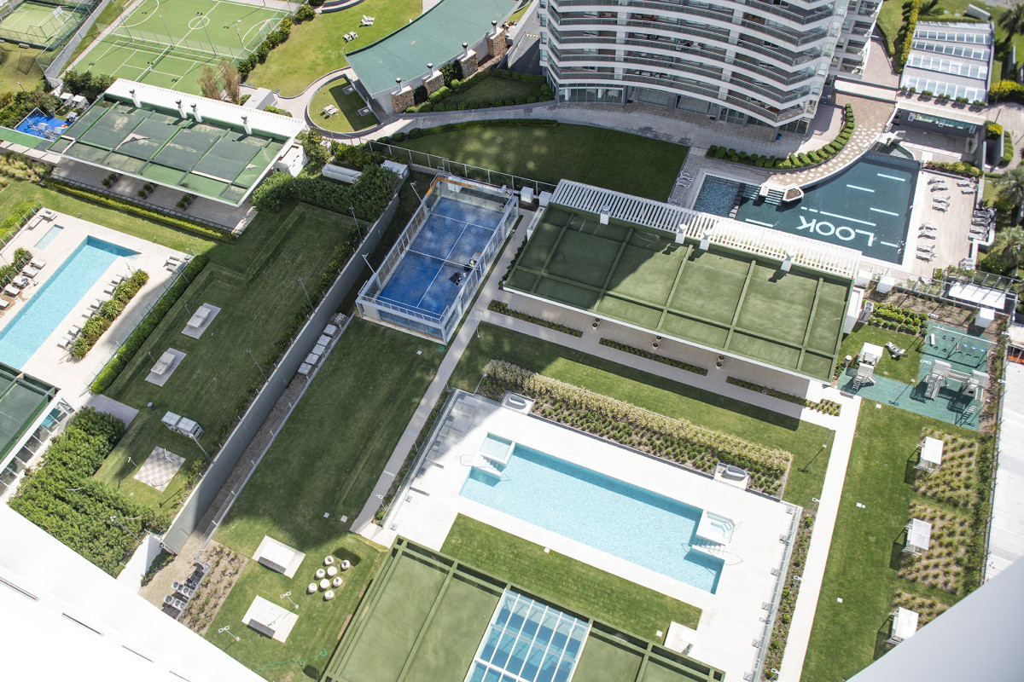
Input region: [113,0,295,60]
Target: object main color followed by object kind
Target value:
green sports court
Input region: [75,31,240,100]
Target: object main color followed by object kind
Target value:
green tennis court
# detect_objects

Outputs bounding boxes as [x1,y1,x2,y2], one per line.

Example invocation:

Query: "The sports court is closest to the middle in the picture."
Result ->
[355,172,519,345]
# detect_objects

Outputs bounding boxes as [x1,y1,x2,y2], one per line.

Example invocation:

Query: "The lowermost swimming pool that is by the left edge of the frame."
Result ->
[0,237,139,369]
